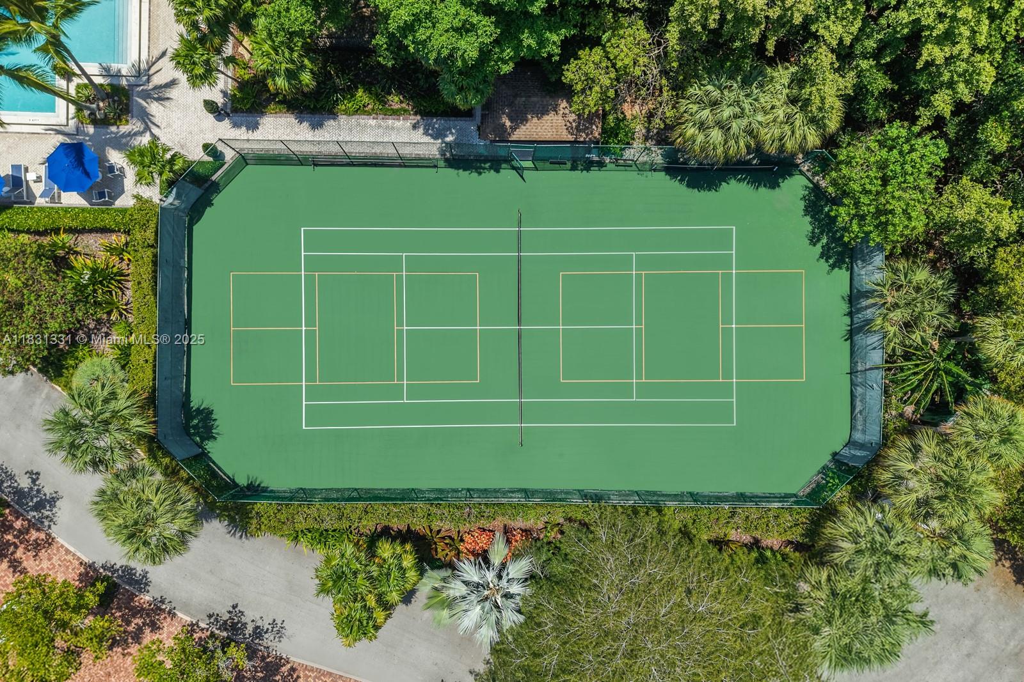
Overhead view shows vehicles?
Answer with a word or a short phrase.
No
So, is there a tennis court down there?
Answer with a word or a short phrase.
Yes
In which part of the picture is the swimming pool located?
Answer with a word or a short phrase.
top left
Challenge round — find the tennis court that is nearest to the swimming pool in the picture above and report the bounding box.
[186,156,848,493]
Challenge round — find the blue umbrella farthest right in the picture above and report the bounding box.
[48,142,104,194]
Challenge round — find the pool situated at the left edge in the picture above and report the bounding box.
[0,0,150,133]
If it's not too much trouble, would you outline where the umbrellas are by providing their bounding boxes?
[0,171,12,200]
[48,142,104,194]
